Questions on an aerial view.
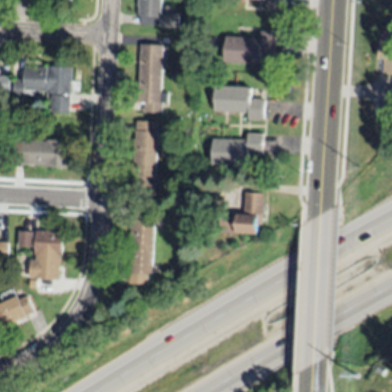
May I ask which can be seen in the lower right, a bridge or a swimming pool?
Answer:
bridge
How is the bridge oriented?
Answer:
from top to bottom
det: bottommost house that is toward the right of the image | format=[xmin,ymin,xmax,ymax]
[234,192,264,234]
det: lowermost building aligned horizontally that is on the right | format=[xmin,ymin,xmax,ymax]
[210,132,266,164]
